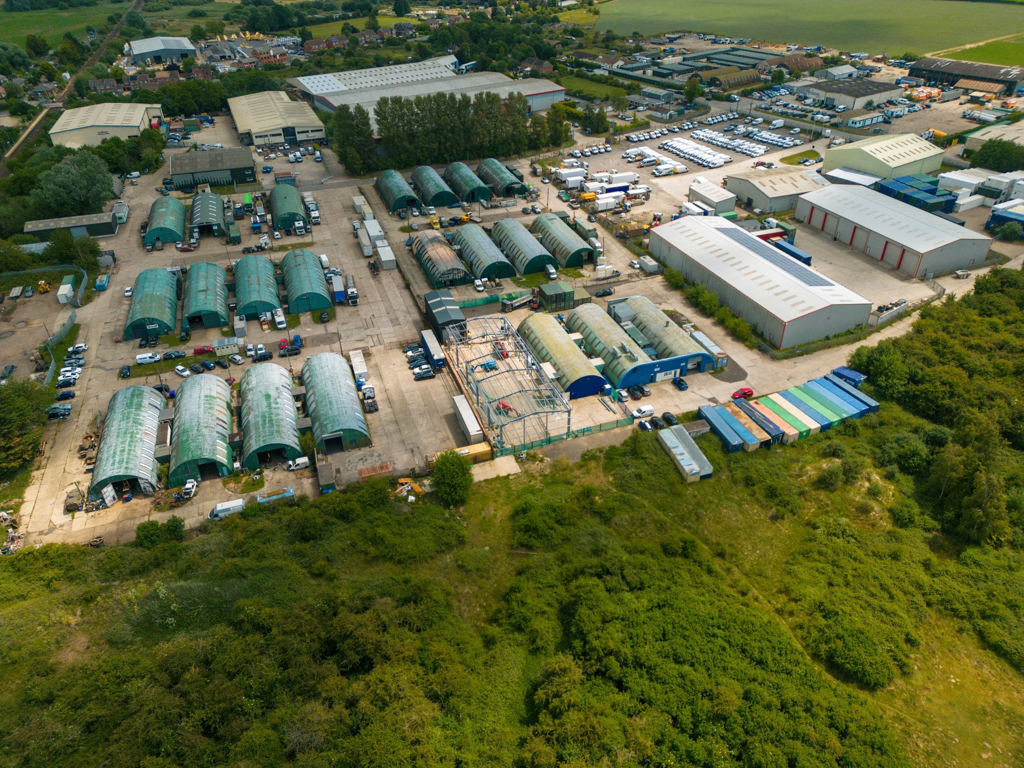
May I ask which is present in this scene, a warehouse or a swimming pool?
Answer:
warehouse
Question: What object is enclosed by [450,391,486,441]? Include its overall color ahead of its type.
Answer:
white trailer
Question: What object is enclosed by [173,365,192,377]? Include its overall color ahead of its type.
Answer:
white vehicle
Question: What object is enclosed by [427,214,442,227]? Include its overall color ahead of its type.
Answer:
yellow vehicle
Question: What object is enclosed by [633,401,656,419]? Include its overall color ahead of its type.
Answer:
white vehicle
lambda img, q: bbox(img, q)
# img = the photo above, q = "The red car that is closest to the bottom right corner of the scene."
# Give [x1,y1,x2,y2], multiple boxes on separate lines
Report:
[732,387,754,399]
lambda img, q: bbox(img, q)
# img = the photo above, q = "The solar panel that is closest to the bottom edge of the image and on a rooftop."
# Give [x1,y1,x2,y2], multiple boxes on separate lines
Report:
[713,225,834,284]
